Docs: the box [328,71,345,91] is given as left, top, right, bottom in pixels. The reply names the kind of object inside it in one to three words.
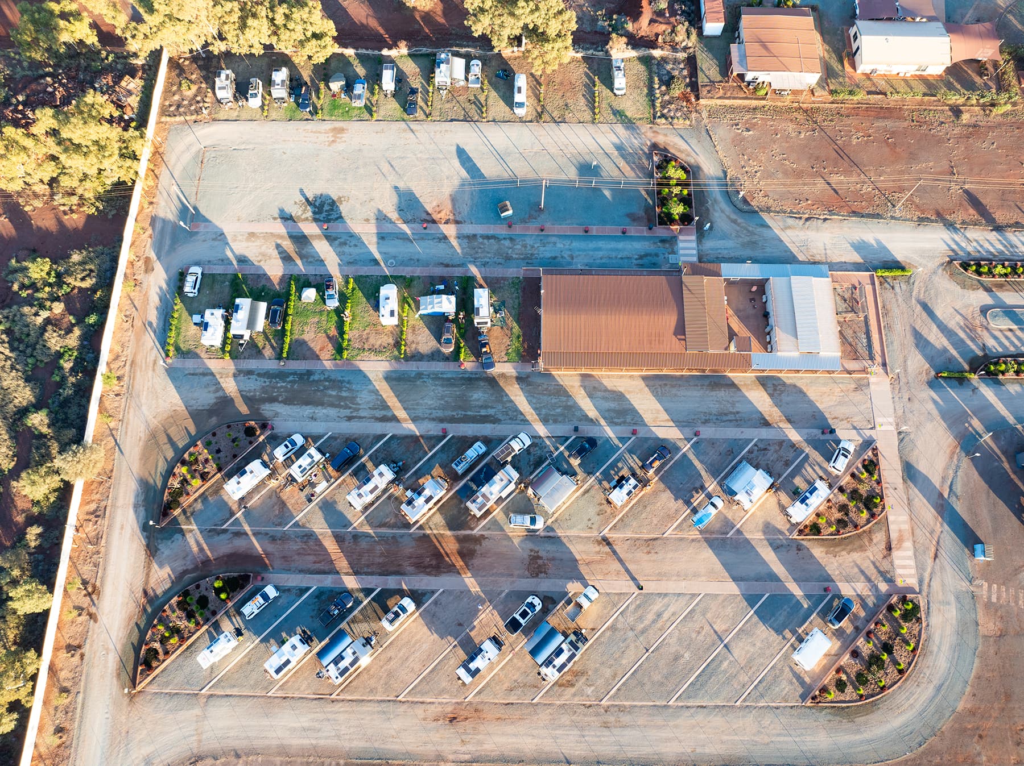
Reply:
tent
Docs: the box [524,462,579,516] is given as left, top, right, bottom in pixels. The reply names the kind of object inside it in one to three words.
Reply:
camper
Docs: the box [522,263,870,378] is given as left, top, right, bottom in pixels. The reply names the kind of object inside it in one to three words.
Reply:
building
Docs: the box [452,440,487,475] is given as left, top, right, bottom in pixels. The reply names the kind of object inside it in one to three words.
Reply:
truck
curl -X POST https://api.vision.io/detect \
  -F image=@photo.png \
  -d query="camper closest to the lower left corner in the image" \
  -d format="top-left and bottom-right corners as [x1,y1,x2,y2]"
[197,629,247,670]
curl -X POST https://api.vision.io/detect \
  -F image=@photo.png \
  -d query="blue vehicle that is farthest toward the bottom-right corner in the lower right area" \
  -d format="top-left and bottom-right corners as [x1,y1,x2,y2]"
[825,596,857,631]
